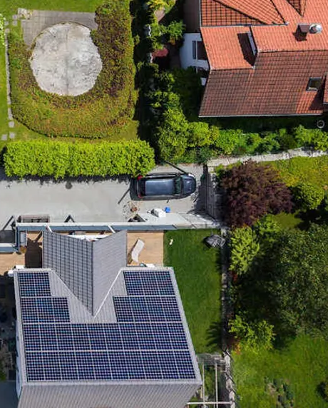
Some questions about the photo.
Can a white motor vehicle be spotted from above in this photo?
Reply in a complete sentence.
No, no white motor vehicle can be seen from above.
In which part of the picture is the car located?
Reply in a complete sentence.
You can find the car in the center area of the picture.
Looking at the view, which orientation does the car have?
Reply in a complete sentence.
The car runs from left to right in the image.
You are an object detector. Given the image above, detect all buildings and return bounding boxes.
[14,225,201,408]
[182,0,328,119]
